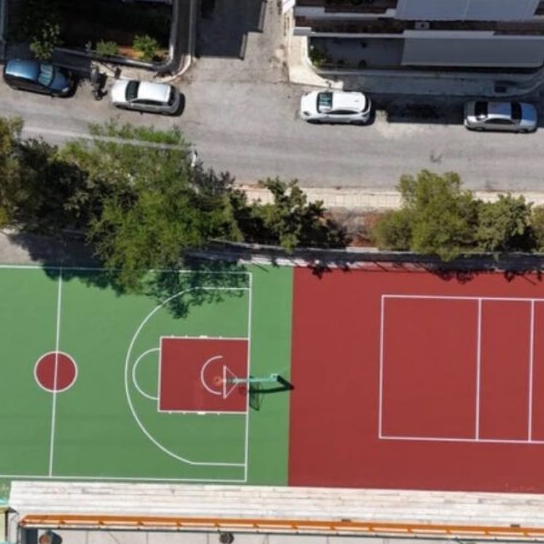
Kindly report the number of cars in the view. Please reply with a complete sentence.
In total, 4 cars can be seen.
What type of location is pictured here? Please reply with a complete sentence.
The area seen from above is a sports ground.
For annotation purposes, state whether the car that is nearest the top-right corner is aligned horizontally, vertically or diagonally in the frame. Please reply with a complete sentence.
What the image shows is the car that is nearest the top-right corner lying horizontally.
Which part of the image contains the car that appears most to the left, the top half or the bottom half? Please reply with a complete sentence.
The top half of the photo is where the car that appears most to the left is.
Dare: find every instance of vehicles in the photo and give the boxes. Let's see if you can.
[300,86,370,124]
[85,65,100,98]
[465,98,534,134]
[112,75,181,115]
[3,57,75,98]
